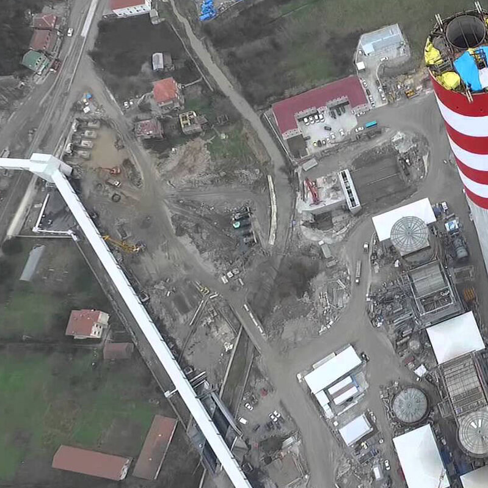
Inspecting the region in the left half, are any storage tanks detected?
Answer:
No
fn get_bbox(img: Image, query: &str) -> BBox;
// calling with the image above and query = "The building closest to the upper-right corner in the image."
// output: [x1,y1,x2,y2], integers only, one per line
[360,25,406,60]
